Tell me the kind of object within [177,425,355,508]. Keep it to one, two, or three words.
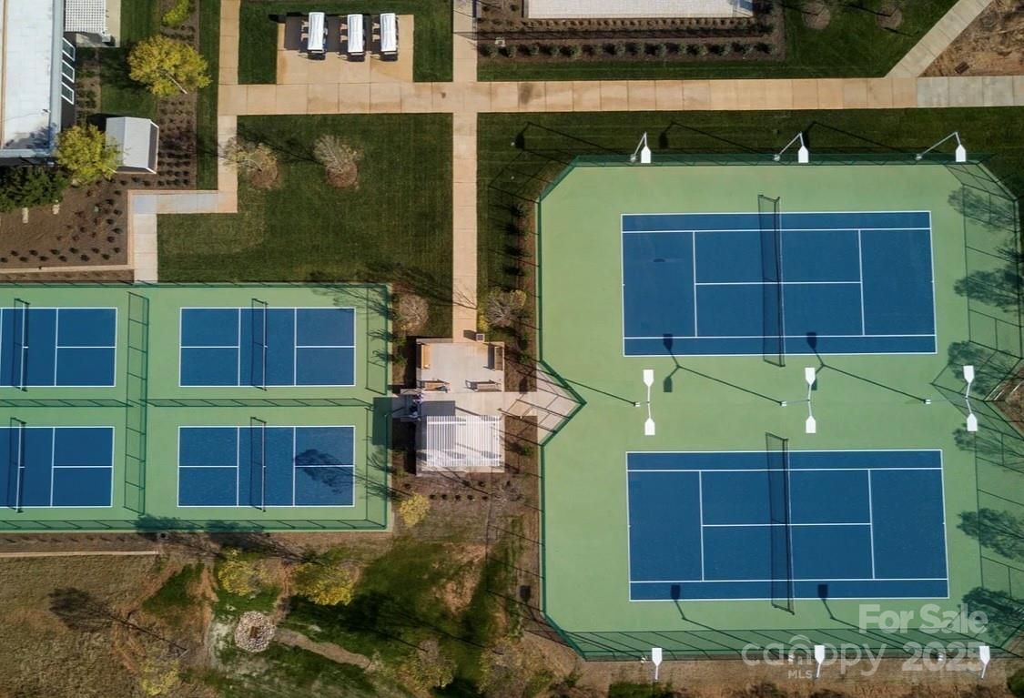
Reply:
sports court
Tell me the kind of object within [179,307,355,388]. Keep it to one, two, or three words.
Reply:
sports court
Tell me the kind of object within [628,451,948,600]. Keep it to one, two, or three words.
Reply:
tennis court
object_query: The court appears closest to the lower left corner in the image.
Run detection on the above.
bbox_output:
[0,426,114,508]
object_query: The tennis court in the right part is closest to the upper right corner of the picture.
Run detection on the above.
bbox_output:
[622,211,937,356]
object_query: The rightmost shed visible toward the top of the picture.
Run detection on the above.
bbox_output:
[107,115,159,173]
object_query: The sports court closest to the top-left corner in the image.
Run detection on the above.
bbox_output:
[0,308,117,388]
